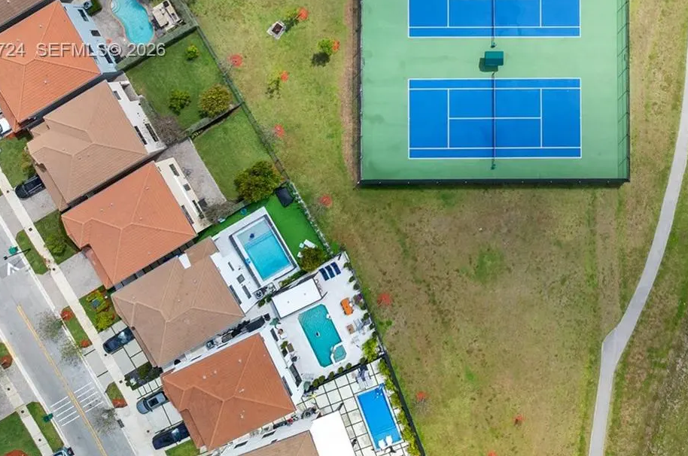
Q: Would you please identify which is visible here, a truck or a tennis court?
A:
tennis court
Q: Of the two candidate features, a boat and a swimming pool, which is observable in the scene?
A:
swimming pool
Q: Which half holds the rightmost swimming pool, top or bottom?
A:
bottom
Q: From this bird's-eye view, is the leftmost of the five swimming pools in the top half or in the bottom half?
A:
top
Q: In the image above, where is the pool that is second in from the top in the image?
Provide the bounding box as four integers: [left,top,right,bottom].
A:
[232,215,295,286]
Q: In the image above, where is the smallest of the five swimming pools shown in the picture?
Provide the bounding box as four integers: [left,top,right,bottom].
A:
[332,346,348,364]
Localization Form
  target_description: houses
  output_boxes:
[61,160,212,290]
[0,0,114,134]
[160,323,303,451]
[111,232,256,369]
[212,415,328,456]
[27,81,163,212]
